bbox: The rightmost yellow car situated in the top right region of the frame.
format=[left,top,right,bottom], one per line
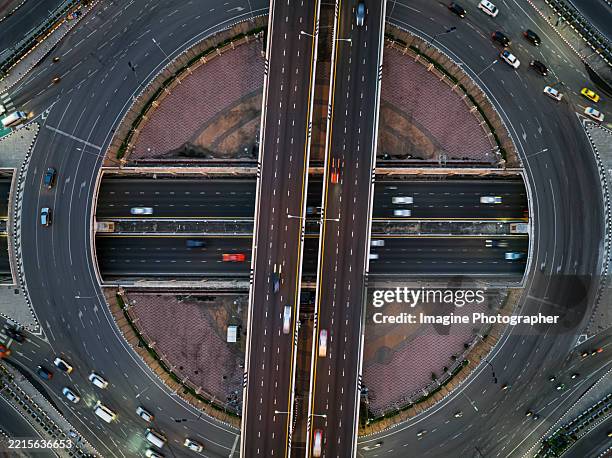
[578,85,602,103]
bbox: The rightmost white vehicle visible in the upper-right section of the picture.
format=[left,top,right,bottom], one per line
[582,105,605,123]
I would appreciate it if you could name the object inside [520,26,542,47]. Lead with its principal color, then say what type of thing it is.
black car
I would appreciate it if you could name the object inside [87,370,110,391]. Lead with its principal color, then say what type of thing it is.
white car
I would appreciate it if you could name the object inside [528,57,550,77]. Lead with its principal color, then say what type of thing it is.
black car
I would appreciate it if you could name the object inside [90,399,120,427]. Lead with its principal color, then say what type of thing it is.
white vehicle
